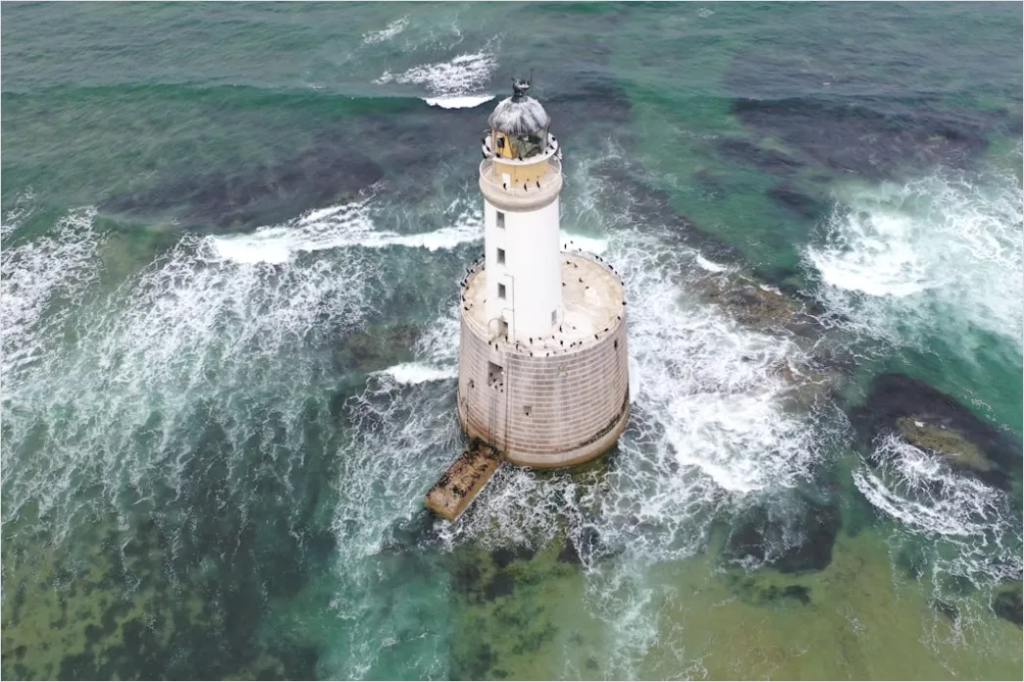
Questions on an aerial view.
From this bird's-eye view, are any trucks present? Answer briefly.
No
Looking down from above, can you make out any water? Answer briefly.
Yes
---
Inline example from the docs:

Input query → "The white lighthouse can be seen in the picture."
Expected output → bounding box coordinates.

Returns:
[456,68,631,481]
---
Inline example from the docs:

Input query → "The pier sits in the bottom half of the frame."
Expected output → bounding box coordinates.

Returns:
[426,437,507,534]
